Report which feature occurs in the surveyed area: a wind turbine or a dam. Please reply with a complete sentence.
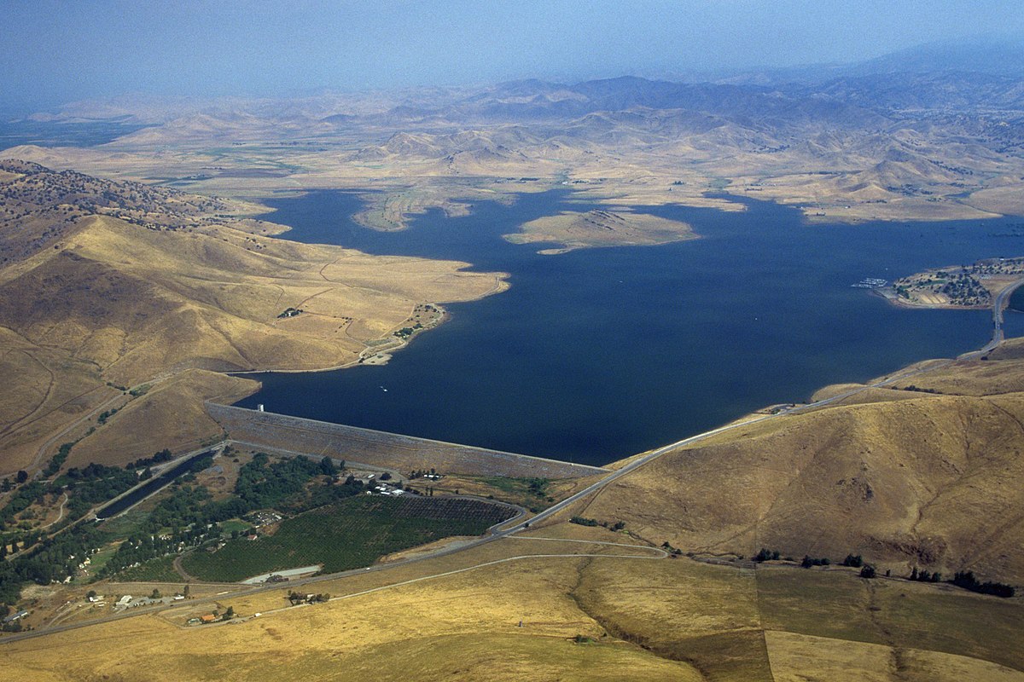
There is a dam in the scene.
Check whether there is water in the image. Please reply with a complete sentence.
Yes, the picture does contain water.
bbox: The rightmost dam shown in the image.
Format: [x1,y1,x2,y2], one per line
[205,401,606,480]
